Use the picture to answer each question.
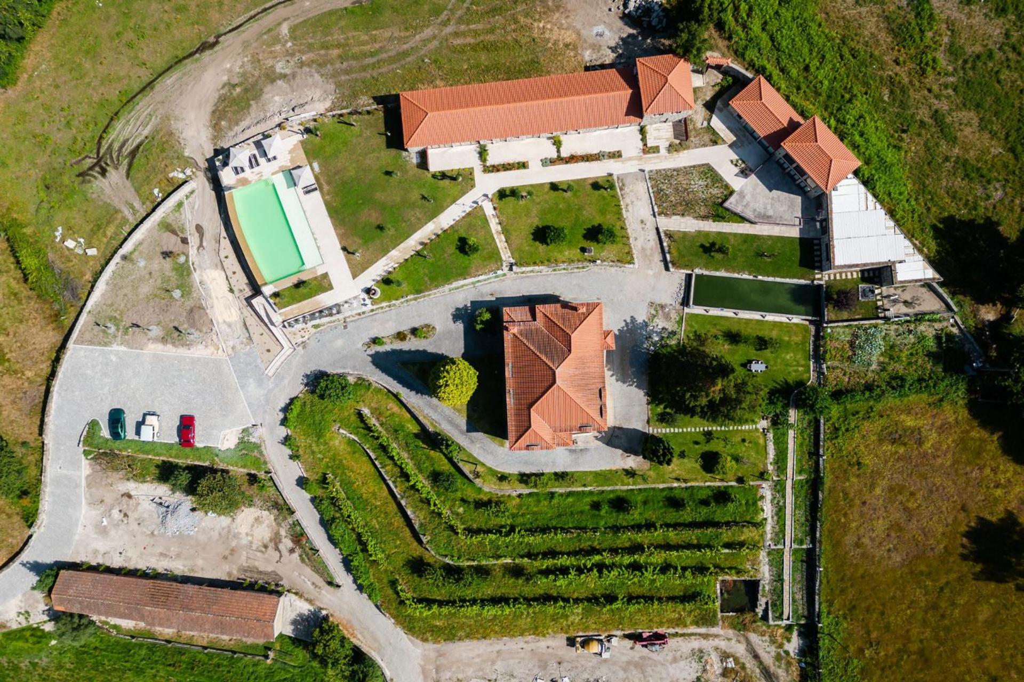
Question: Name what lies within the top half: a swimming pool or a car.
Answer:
swimming pool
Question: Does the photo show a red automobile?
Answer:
Yes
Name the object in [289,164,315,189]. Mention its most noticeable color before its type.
white umbrella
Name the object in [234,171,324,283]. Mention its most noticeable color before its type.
green swimming pool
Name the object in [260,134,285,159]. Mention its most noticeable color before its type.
white umbrella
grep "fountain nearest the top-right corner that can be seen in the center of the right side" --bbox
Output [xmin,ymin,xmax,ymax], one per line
[859,284,877,300]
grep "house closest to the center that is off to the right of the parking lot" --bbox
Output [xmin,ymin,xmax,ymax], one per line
[503,302,616,451]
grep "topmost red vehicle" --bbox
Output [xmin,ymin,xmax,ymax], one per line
[175,415,194,449]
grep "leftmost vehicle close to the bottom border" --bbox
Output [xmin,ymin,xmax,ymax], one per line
[577,639,617,665]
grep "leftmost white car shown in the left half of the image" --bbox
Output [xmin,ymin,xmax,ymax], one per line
[137,412,158,443]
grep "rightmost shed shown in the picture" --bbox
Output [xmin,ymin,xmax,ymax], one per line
[819,175,943,286]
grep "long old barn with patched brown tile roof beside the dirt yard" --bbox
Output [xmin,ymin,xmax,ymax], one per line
[51,567,286,641]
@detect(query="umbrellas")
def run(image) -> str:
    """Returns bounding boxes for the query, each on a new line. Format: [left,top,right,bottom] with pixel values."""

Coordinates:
[229,146,251,168]
[289,164,315,189]
[260,134,285,159]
